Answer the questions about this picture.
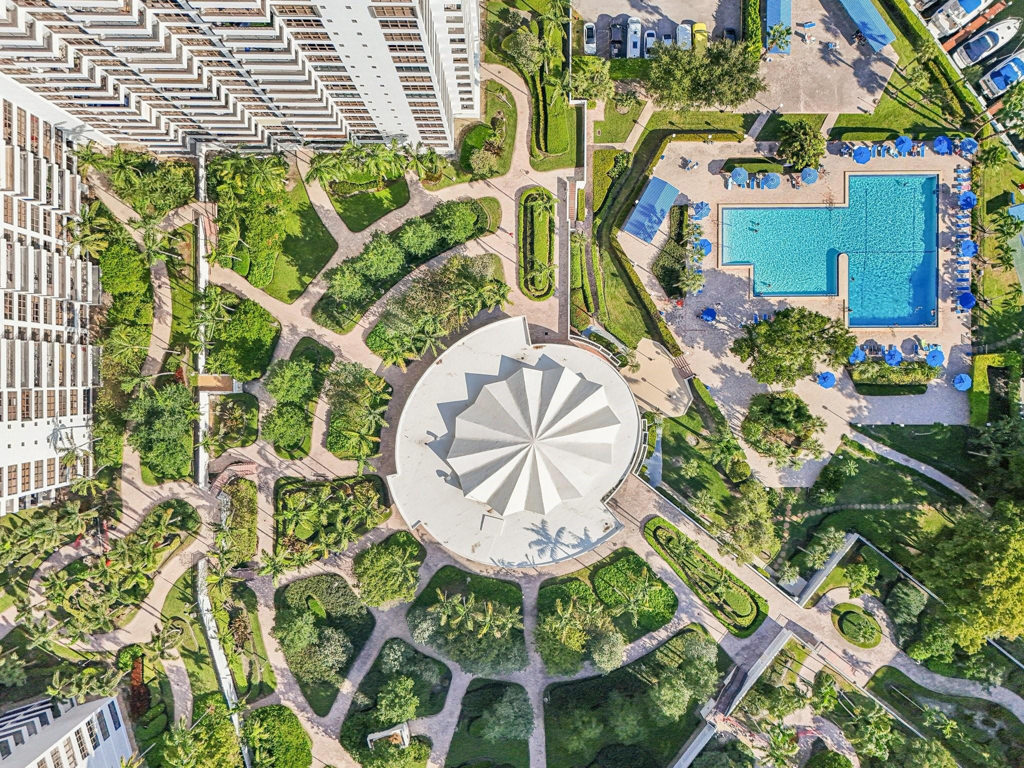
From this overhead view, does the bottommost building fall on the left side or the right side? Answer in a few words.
left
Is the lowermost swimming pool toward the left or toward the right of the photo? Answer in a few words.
right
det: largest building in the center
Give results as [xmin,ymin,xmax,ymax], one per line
[387,316,640,568]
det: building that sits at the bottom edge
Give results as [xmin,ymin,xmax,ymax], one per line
[0,696,137,768]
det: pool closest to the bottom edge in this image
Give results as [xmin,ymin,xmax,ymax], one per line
[712,169,949,334]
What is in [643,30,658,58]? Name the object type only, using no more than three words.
car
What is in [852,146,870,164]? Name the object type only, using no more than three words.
umbrella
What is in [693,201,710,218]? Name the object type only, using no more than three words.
umbrella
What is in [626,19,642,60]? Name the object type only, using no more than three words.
vehicle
